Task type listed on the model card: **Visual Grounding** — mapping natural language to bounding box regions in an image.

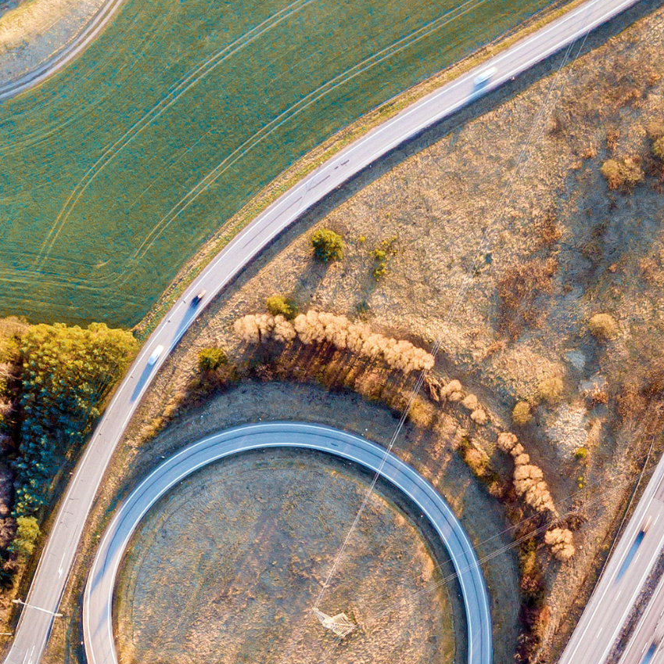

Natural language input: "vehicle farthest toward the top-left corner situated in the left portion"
[189,291,203,307]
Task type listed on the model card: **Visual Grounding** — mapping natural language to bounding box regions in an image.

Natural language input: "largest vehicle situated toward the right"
[476,65,495,81]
